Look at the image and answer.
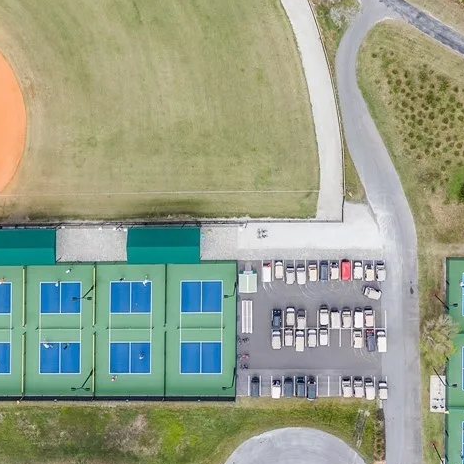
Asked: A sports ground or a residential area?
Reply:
sports ground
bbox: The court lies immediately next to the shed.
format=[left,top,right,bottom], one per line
[166,266,236,397]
